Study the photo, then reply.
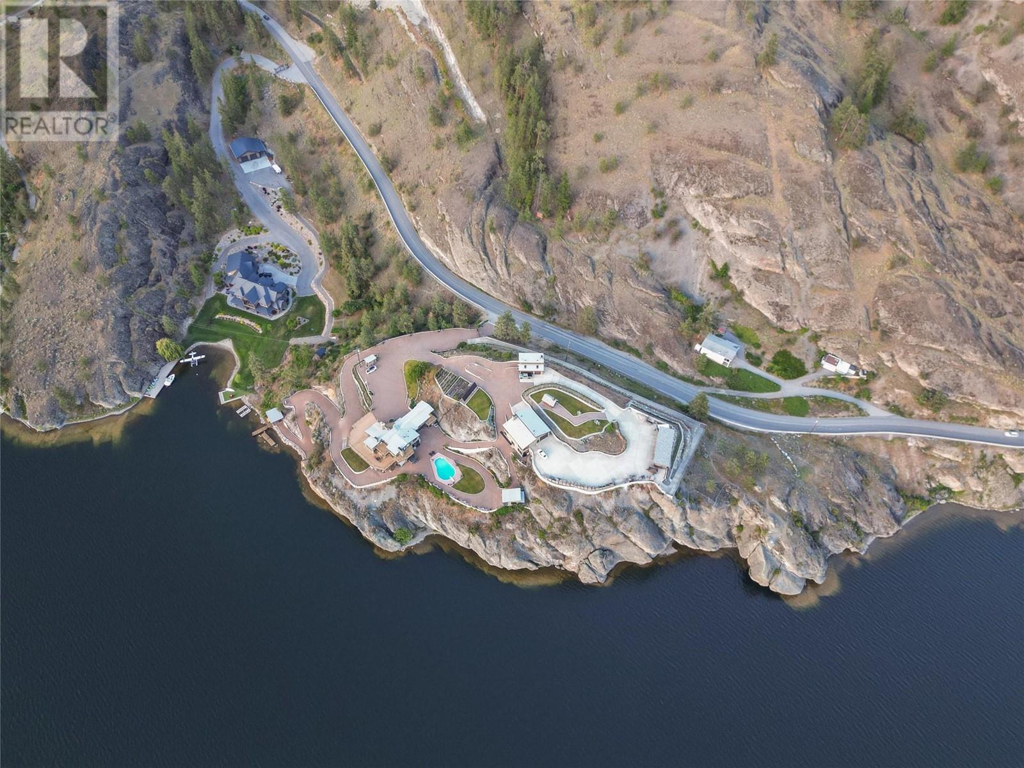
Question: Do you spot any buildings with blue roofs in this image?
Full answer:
Yes, the frame does contain a building with a blue roof.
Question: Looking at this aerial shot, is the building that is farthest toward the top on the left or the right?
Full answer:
The building that is farthest toward the top sits on the left side.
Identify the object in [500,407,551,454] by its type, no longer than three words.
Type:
building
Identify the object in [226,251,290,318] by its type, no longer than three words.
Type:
house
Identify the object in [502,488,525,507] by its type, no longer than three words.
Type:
building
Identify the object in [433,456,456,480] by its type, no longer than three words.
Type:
swimming pool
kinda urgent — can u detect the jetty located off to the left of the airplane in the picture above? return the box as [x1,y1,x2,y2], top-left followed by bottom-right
[144,360,182,401]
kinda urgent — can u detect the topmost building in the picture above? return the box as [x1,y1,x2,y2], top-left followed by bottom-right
[229,138,271,164]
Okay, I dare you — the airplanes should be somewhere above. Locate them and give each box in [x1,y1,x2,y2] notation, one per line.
[181,350,205,369]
